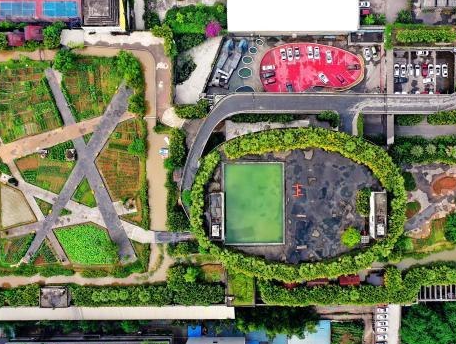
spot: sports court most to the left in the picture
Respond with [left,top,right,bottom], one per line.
[0,1,36,18]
